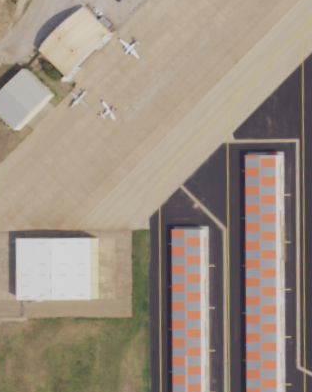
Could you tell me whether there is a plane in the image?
Yes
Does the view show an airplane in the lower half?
No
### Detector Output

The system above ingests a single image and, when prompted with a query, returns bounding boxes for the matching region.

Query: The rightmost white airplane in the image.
[121,37,140,60]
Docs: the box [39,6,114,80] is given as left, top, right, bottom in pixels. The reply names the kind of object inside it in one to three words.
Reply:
hangar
